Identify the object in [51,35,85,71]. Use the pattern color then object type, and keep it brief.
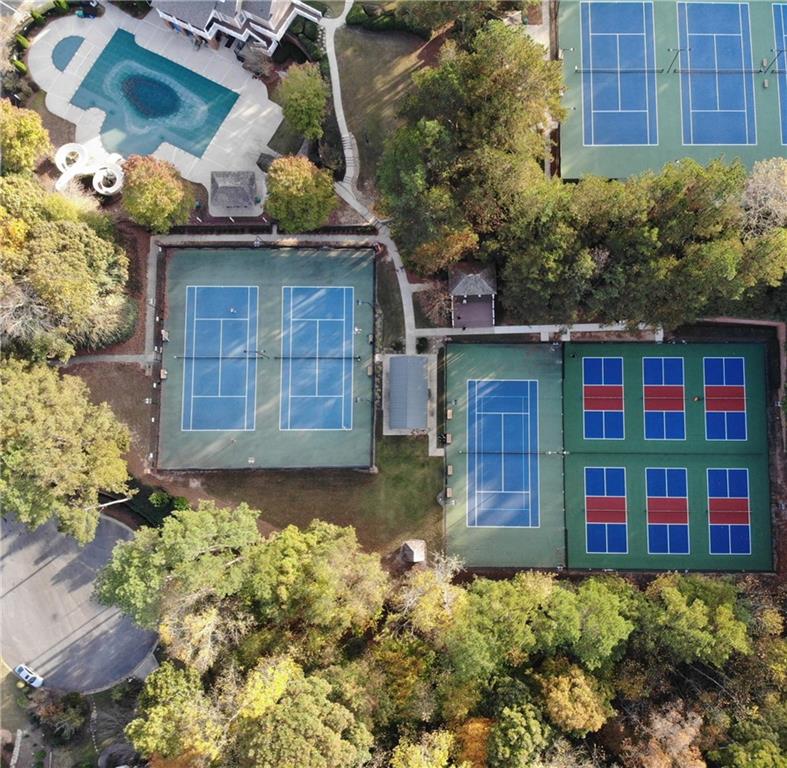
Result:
blue swimming pool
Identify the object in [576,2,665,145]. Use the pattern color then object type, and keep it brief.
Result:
blue tennis court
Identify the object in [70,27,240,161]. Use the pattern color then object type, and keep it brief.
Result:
blue swimming pool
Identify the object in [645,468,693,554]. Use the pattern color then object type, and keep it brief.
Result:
blue sports court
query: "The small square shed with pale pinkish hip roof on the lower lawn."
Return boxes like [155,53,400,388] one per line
[402,538,425,563]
